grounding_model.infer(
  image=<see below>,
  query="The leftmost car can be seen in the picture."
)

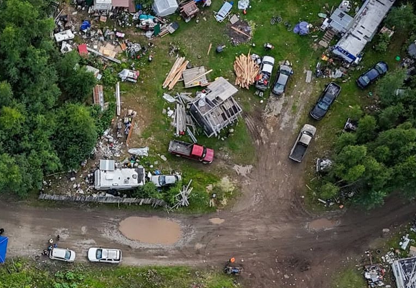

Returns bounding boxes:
[48,245,75,264]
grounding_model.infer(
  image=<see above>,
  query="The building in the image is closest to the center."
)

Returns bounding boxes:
[186,78,242,141]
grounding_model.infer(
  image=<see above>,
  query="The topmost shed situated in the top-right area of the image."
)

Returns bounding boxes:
[322,9,350,38]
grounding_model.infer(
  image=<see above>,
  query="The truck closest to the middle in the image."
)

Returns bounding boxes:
[166,138,214,164]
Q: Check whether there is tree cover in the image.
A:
Yes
